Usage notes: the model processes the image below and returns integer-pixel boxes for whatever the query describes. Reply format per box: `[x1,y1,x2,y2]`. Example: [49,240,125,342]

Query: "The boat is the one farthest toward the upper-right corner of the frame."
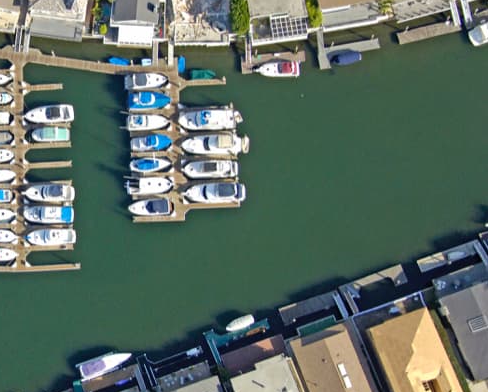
[469,21,488,42]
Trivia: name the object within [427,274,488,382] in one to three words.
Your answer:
house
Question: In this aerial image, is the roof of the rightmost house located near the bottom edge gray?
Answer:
Yes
